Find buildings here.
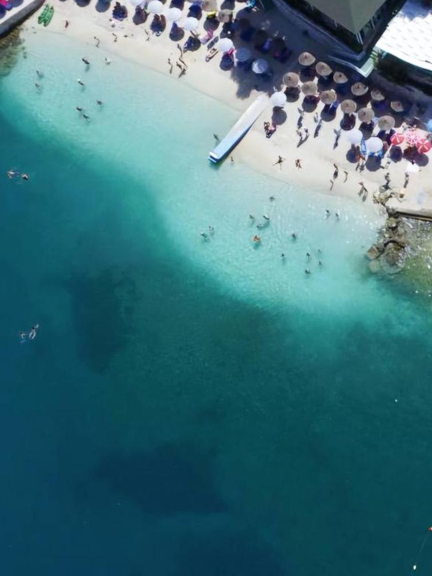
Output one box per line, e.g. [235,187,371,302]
[306,0,396,46]
[374,0,432,75]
